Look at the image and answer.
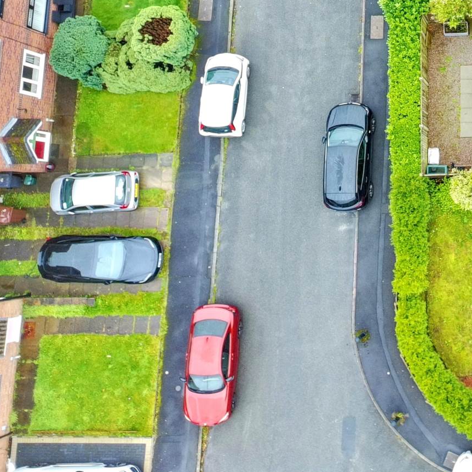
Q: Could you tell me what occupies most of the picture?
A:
paved ground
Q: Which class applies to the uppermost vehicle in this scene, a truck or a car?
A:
car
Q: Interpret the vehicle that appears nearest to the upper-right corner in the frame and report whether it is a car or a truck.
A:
car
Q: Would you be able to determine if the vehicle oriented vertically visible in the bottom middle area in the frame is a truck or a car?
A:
car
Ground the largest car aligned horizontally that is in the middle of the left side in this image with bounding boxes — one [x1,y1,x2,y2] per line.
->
[32,231,163,289]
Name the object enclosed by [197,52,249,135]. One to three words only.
car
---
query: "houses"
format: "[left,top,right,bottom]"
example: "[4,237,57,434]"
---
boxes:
[0,0,65,171]
[0,300,25,472]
